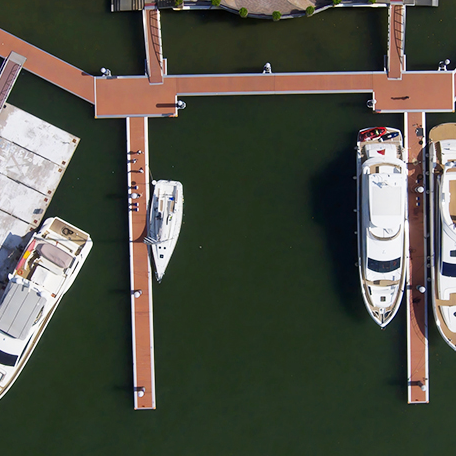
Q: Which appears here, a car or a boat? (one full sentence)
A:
The one in the frame is a boat.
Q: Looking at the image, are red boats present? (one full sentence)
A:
Yes, a red boat can be made out from above.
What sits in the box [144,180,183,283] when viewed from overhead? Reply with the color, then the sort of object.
white boat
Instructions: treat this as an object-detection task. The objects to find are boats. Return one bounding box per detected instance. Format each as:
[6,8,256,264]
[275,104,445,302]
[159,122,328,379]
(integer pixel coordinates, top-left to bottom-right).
[144,180,183,283]
[356,126,408,331]
[360,126,388,143]
[0,218,92,395]
[428,123,456,351]
[379,131,399,143]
